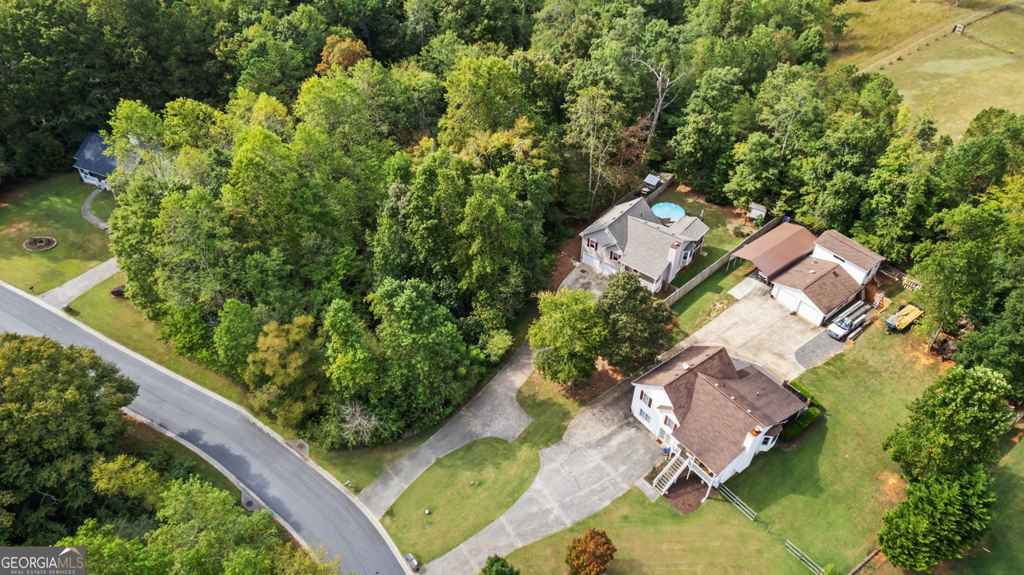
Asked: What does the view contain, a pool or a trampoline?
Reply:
pool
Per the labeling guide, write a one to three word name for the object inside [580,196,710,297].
house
